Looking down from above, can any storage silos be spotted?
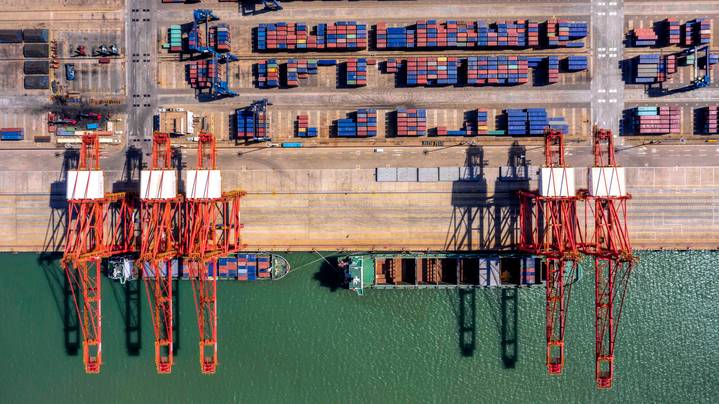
No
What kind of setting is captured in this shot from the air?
port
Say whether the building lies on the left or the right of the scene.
left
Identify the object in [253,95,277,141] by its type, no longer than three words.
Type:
crane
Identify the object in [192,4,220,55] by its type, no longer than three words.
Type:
crane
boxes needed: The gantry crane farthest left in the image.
[53,134,149,374]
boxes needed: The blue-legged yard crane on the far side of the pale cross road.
[671,41,711,91]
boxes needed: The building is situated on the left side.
[160,112,197,134]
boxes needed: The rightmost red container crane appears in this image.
[550,129,638,389]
